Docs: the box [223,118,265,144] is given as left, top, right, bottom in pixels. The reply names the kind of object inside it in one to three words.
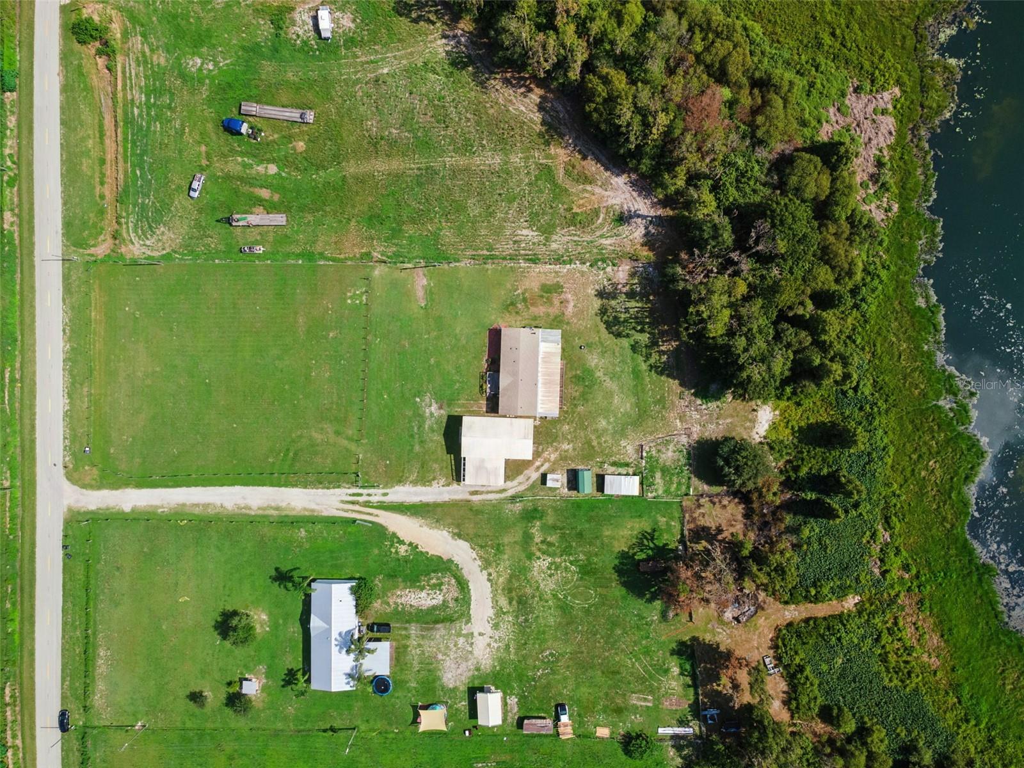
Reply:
truck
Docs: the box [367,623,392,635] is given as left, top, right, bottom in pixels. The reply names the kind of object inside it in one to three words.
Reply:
vehicle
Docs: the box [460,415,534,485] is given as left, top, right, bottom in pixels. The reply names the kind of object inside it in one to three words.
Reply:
building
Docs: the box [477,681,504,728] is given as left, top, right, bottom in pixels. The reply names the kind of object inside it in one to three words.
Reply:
shed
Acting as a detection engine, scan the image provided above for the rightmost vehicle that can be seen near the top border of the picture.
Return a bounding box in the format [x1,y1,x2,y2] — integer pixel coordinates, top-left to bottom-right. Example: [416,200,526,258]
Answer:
[319,8,333,45]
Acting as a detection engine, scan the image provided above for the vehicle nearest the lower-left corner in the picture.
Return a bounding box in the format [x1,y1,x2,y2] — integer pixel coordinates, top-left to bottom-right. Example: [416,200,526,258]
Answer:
[57,709,70,732]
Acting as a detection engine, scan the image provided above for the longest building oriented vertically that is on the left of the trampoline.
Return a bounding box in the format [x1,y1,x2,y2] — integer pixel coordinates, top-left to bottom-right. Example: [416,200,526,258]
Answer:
[308,580,358,693]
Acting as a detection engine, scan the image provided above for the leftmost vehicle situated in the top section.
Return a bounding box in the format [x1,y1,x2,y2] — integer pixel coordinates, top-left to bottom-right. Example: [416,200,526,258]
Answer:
[189,172,205,199]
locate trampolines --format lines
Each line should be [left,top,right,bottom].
[373,676,392,697]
